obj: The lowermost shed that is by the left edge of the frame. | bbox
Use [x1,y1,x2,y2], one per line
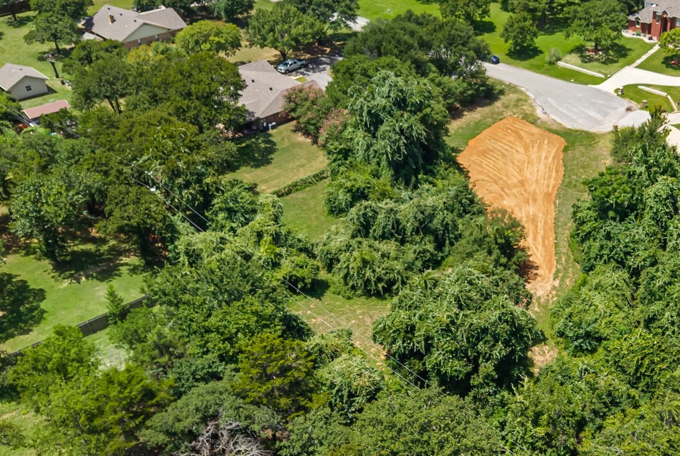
[21,100,74,128]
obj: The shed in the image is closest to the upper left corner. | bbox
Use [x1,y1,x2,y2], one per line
[0,63,51,103]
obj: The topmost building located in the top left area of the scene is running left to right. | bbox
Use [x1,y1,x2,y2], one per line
[74,2,186,54]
